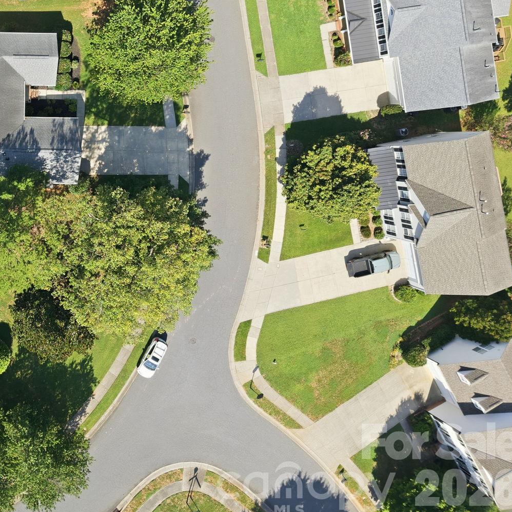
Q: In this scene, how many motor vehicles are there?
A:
three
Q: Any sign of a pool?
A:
No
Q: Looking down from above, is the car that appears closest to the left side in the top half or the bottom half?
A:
bottom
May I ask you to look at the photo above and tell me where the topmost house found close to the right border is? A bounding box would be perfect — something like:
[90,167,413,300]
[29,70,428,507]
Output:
[339,0,509,113]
